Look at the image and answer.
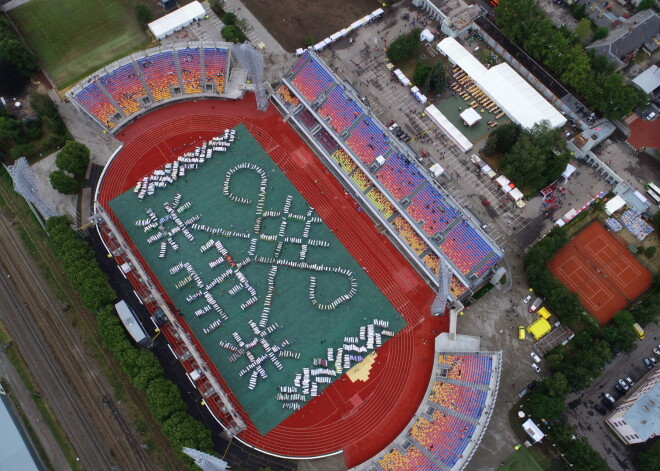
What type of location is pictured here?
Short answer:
sports ground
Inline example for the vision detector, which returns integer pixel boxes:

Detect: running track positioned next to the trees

[98,99,449,465]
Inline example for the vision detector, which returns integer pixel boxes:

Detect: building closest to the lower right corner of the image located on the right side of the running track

[608,363,660,444]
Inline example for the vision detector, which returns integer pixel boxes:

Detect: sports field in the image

[109,124,405,434]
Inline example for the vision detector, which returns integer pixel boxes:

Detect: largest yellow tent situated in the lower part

[526,318,551,341]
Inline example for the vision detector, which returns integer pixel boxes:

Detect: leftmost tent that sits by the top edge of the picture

[148,1,207,43]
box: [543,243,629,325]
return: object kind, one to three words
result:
tennis court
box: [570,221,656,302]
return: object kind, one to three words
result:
tennis court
